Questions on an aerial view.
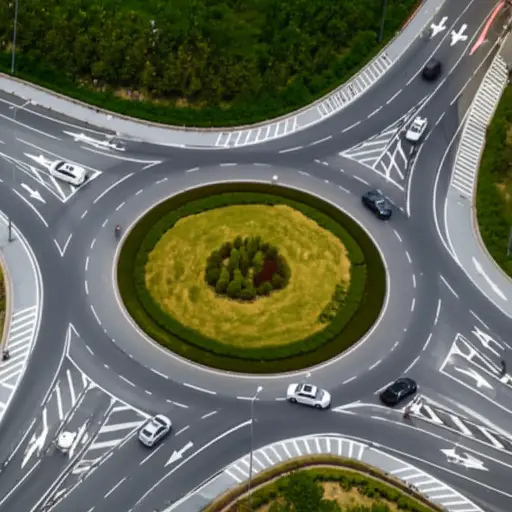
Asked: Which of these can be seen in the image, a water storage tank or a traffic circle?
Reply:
traffic circle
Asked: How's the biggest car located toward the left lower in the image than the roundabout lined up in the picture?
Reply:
diagonally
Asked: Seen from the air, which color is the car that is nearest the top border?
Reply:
black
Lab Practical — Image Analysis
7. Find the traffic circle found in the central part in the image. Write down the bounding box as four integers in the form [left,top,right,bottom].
[73,155,428,408]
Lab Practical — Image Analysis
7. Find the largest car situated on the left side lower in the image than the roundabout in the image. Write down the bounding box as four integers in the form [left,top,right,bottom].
[139,414,174,447]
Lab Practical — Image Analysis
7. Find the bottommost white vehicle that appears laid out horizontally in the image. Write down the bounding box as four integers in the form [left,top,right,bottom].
[287,384,331,408]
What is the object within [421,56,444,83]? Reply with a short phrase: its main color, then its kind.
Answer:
black car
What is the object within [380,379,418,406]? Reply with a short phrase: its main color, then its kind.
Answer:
black car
